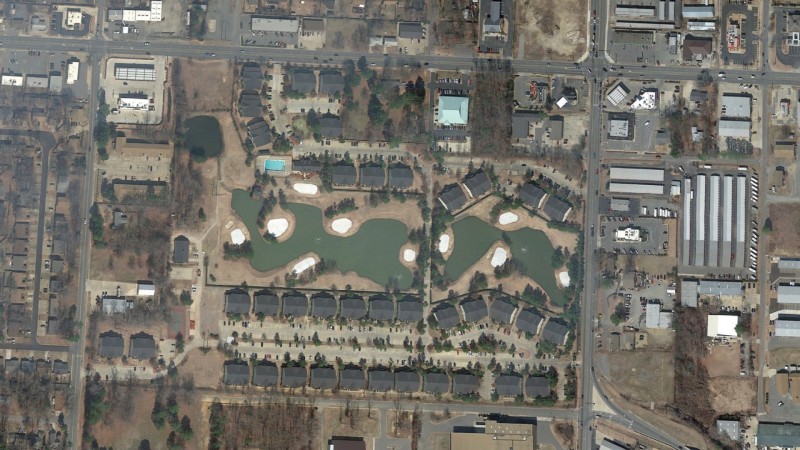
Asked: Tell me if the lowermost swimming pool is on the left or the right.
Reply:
left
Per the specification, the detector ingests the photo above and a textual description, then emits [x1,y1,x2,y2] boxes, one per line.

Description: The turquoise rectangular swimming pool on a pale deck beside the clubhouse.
[256,156,292,176]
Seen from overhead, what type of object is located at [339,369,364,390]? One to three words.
building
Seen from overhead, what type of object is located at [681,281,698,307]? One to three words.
shed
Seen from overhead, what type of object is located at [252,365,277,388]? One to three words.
building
